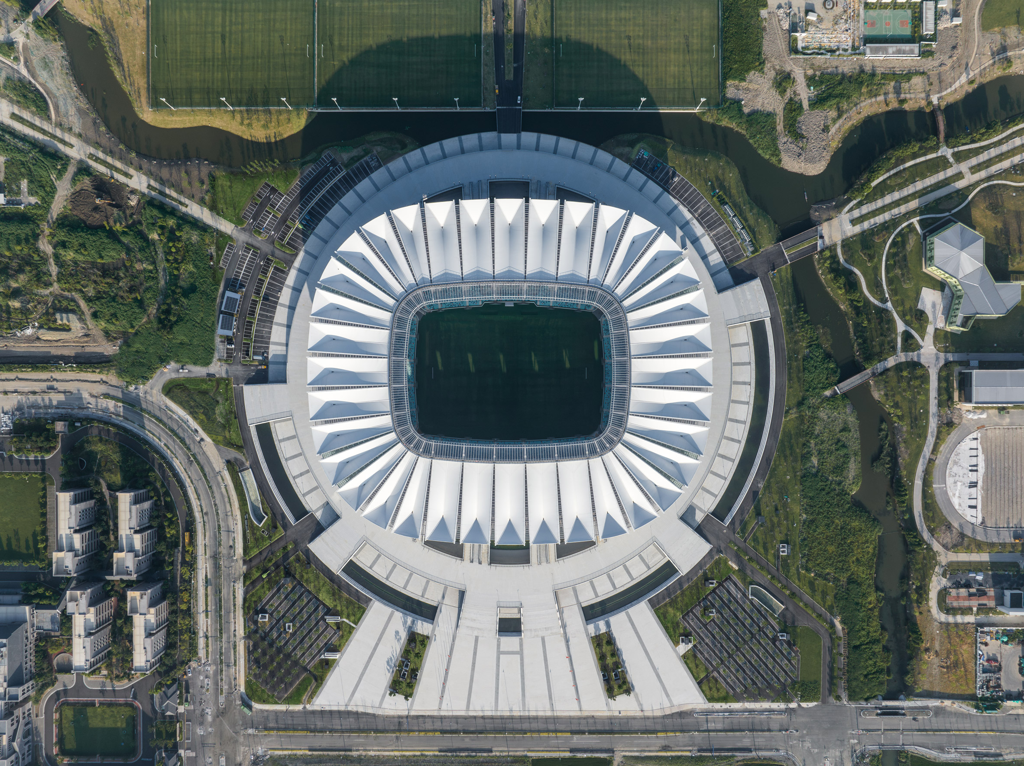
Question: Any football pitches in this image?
Yes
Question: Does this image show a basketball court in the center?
No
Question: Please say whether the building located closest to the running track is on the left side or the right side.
right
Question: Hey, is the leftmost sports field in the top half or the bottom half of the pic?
top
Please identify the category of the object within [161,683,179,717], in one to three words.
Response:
building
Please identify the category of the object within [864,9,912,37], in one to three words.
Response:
basketball court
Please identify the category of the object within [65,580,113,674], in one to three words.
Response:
building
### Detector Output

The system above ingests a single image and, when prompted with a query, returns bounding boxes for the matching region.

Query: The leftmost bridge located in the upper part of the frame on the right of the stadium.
[781,225,819,263]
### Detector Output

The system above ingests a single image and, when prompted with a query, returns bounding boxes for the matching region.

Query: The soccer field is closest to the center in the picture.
[415,303,604,440]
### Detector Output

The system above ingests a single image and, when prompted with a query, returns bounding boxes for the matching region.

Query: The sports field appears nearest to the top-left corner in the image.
[150,0,314,108]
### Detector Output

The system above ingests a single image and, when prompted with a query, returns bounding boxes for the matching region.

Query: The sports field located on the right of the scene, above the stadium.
[554,0,721,108]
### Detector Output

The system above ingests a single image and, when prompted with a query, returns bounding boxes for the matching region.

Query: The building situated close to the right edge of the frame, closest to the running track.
[955,370,1024,405]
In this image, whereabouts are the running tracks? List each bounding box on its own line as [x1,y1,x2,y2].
[934,414,1024,544]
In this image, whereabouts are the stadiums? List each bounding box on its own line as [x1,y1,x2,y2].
[304,195,715,548]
